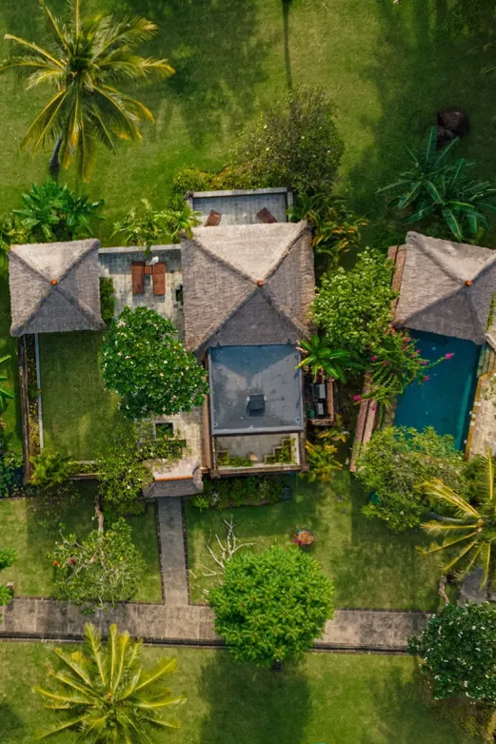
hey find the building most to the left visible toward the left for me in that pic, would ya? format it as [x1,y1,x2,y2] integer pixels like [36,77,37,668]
[8,239,105,336]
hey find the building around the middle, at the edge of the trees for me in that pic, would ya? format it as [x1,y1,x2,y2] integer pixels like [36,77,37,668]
[182,221,315,477]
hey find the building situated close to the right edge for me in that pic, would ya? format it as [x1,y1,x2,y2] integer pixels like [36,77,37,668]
[394,233,496,344]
